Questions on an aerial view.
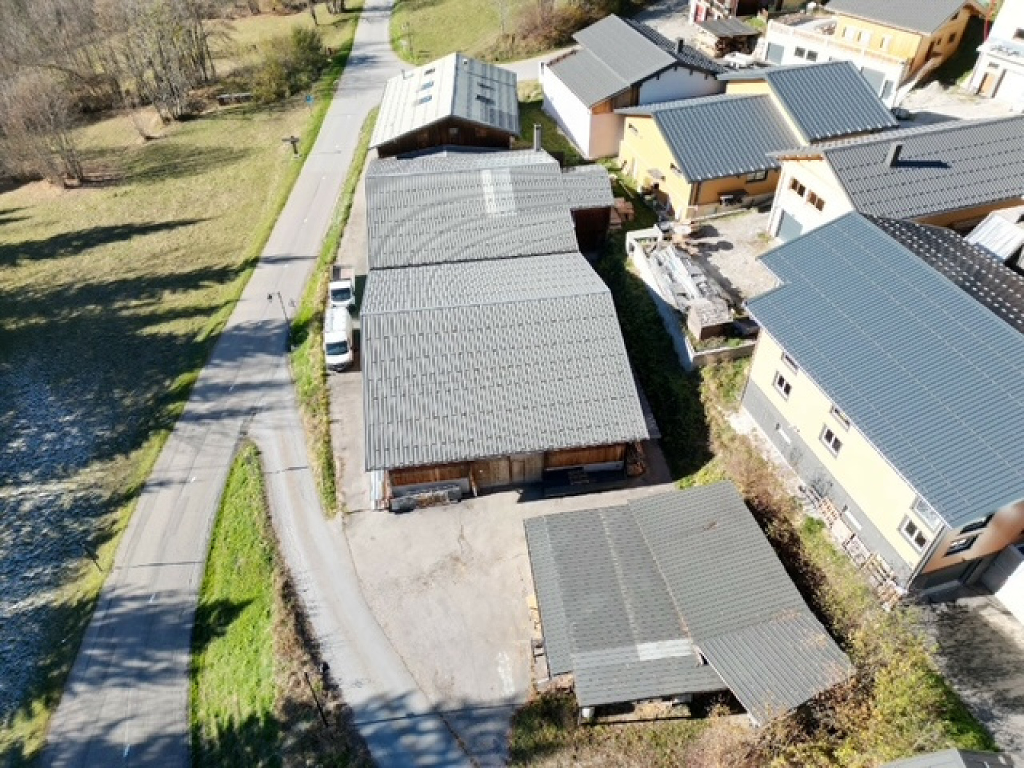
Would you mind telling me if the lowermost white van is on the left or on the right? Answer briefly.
left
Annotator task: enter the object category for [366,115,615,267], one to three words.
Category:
barn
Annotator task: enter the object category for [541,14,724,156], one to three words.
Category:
house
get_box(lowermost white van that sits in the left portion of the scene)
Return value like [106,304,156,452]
[320,303,355,369]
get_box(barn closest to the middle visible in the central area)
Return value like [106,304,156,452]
[360,251,652,513]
